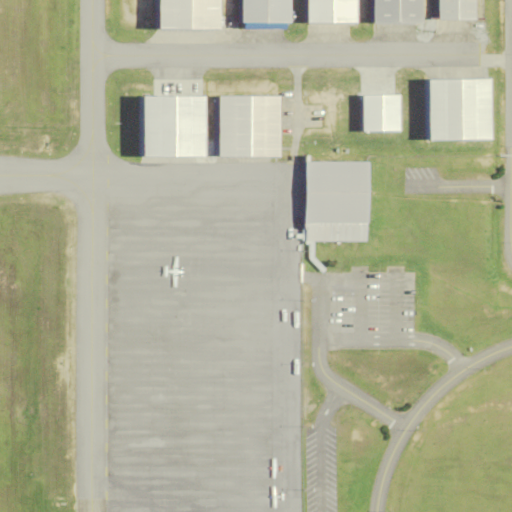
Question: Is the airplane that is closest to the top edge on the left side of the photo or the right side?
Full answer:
The airplane that is closest to the top edge appears in the left half of the scene.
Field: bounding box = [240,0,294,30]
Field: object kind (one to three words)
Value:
hangar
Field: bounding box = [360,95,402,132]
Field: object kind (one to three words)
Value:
hangar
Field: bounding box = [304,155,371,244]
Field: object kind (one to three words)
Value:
building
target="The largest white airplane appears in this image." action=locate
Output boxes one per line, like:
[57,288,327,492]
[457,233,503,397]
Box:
[164,256,184,288]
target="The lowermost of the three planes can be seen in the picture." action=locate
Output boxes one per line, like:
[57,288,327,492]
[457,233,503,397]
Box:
[270,486,285,508]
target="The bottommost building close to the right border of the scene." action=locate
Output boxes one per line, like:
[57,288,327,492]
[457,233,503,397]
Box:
[426,80,494,140]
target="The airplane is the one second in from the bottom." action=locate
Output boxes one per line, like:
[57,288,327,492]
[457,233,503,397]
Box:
[270,458,286,479]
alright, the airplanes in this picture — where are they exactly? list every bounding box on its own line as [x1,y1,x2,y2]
[164,256,184,288]
[270,458,286,479]
[270,486,285,508]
